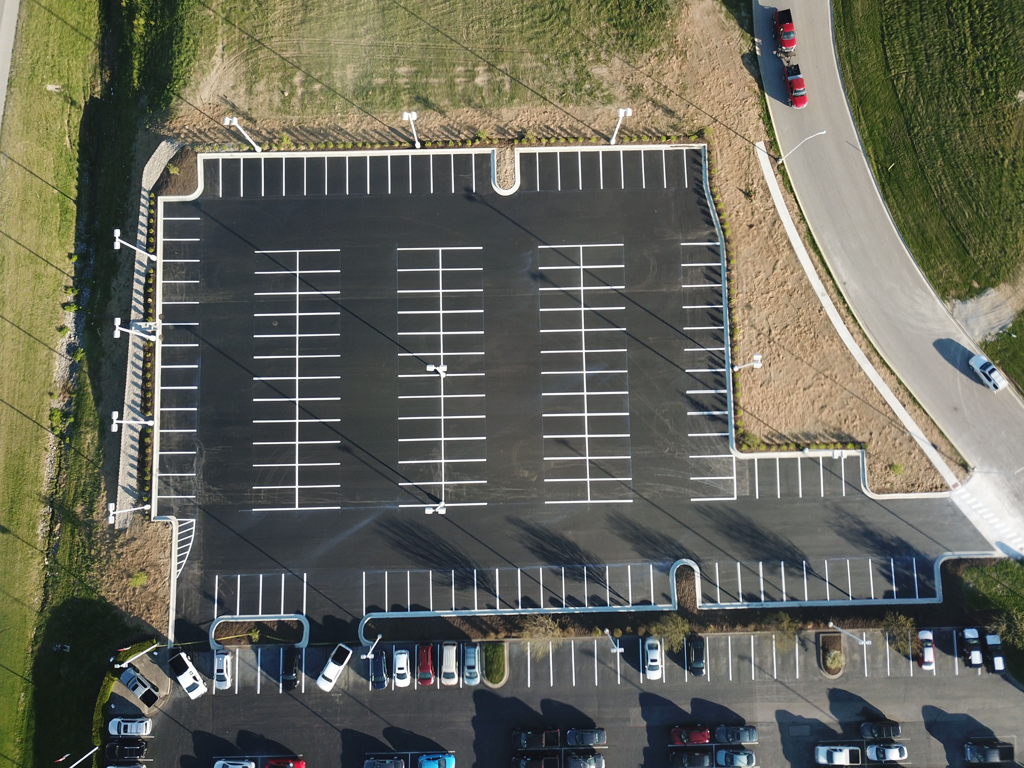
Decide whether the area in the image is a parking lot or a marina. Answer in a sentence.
The area seen from above is a parking lot.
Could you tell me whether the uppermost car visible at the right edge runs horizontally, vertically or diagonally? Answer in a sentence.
In this picture, the uppermost car visible at the right edge is oriented diagonally.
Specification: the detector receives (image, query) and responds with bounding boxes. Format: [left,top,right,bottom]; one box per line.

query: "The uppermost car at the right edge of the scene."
[970,354,1007,394]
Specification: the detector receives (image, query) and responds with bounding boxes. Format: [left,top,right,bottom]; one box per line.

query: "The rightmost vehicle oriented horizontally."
[964,741,1014,764]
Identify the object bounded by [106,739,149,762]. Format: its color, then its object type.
black car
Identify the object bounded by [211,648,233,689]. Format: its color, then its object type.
white car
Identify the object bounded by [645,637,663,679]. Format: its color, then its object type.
white car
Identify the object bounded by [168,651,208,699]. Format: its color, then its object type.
white truck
